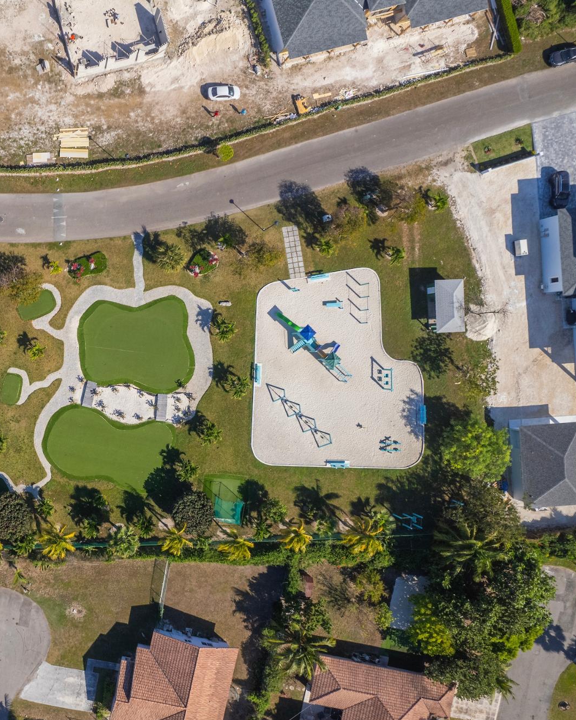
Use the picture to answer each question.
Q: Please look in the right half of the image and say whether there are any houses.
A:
Yes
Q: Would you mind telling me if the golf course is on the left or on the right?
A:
left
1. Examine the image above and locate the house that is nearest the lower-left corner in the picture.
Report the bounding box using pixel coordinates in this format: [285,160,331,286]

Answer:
[105,626,238,720]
